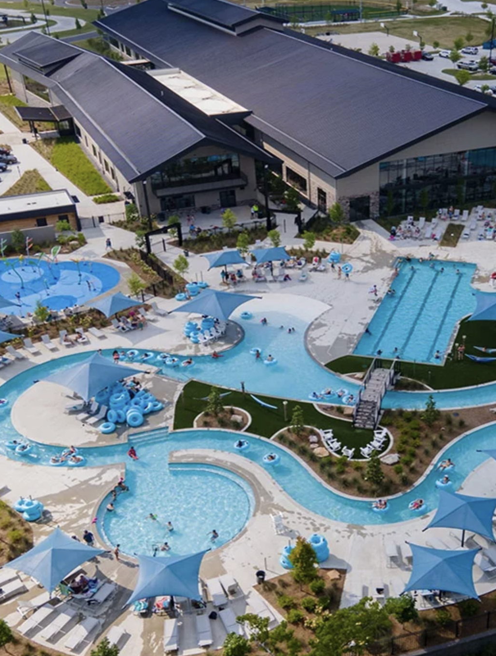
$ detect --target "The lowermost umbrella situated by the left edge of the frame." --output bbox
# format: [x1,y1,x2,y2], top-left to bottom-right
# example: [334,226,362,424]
[0,525,114,603]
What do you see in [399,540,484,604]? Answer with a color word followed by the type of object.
blue umbrella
